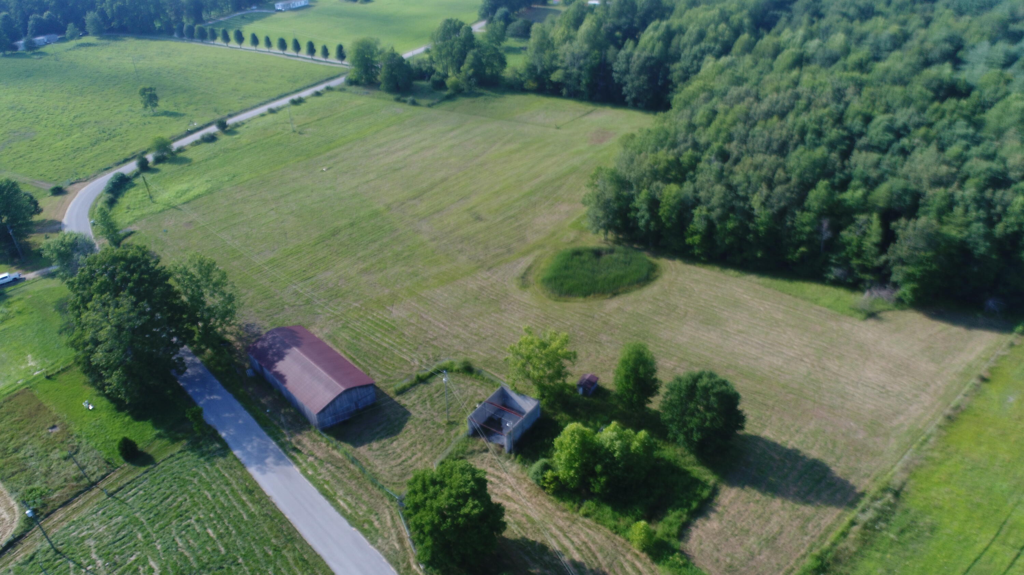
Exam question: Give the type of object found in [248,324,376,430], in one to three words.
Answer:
barn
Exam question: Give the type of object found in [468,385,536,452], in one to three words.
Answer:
building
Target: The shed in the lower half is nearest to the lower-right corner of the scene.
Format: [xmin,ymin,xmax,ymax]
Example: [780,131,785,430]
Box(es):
[575,373,601,397]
